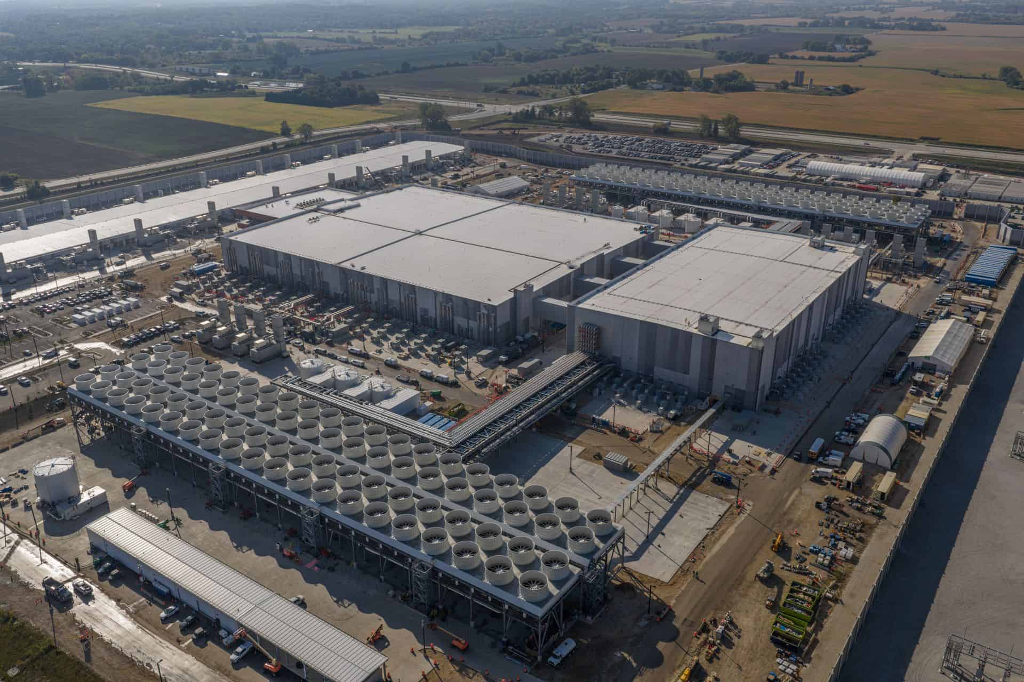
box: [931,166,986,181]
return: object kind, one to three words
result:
building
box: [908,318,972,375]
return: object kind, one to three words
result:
tent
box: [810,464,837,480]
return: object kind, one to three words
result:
vehicle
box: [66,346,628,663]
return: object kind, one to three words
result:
cooling tower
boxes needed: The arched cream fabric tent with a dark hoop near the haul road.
[850,402,916,472]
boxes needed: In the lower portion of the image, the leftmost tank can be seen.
[37,449,92,512]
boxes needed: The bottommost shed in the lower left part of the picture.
[83,507,391,682]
